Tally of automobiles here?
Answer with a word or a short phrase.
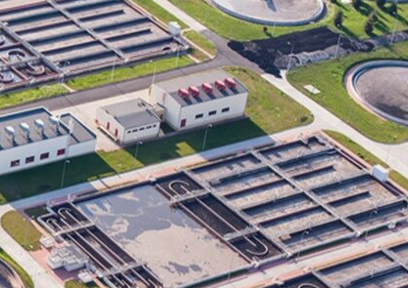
0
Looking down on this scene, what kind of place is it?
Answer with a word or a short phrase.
industrial area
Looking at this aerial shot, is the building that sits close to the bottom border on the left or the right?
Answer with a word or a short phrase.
left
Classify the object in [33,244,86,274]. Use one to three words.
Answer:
building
